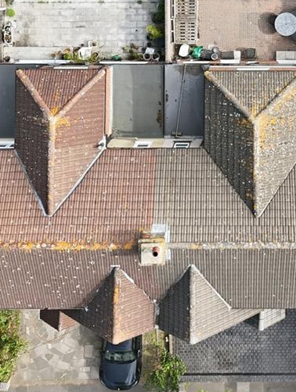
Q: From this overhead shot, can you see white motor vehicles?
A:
No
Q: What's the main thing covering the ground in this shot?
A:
buildings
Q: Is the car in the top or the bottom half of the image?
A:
bottom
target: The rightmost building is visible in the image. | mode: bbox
[153,56,296,346]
